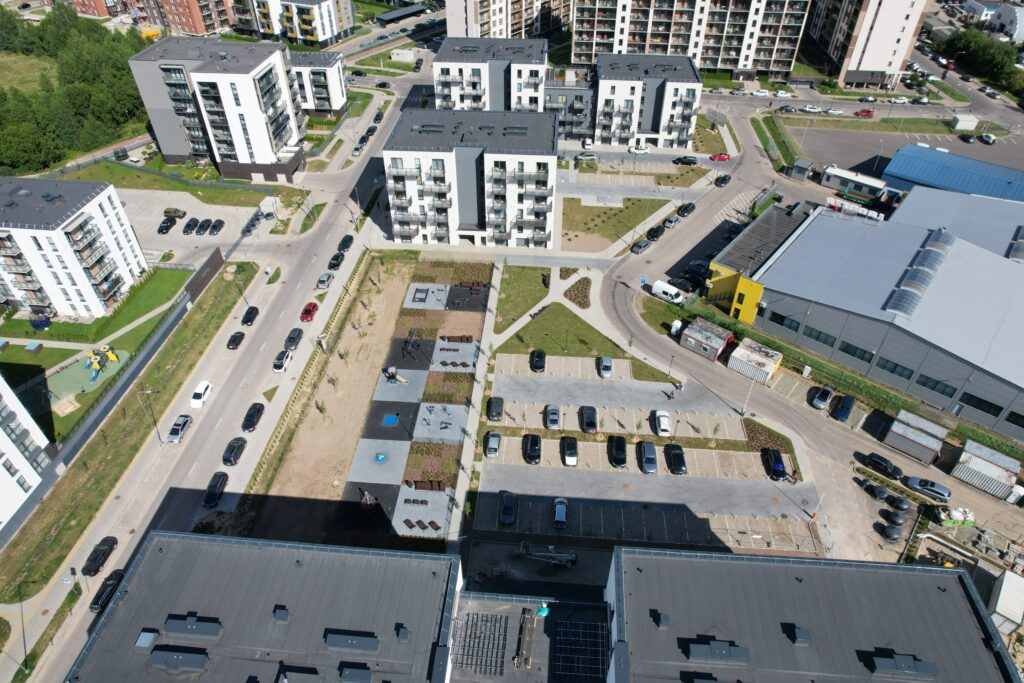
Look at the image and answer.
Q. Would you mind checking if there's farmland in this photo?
No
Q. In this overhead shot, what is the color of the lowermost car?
black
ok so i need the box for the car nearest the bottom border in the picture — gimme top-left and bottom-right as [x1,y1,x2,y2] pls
[88,569,126,613]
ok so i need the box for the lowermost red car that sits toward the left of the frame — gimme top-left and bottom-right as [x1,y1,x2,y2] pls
[300,303,318,322]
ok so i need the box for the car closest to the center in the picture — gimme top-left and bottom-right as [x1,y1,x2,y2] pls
[531,351,545,373]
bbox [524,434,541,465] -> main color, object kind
black car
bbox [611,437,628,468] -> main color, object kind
black car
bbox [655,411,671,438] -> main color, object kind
white car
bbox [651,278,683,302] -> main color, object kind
white vehicle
